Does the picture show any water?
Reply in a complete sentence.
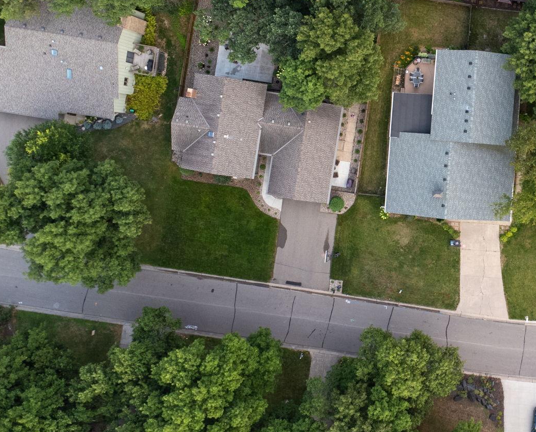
No, water can't be seen anywhere here.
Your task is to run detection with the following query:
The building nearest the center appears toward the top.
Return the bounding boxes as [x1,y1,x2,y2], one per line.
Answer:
[172,74,344,204]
